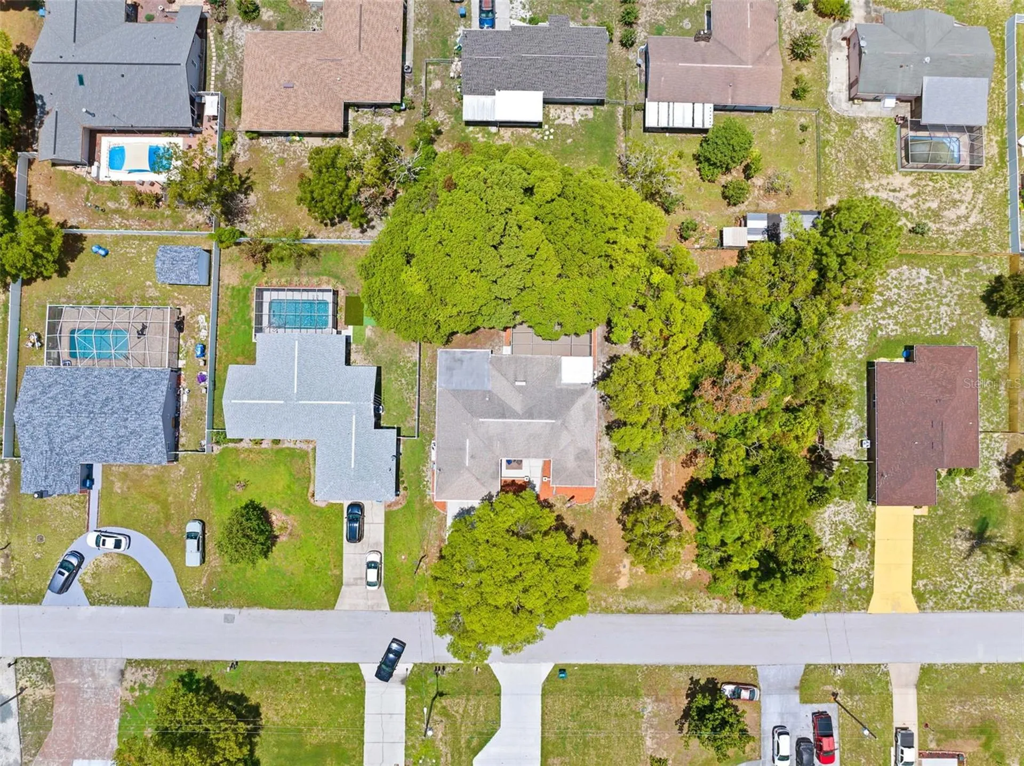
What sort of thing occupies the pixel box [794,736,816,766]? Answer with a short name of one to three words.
car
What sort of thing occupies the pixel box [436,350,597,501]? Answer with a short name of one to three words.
house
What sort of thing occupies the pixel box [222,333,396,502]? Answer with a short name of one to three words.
house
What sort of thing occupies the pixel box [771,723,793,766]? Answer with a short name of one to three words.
car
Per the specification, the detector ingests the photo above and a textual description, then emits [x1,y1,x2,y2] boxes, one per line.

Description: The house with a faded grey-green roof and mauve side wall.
[845,6,998,131]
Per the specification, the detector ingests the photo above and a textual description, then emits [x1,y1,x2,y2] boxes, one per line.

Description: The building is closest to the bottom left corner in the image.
[11,366,179,496]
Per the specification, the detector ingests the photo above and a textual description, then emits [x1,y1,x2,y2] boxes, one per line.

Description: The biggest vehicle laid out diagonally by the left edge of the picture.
[46,550,85,595]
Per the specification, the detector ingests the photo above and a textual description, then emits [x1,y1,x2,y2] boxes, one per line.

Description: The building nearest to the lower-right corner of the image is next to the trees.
[869,345,980,506]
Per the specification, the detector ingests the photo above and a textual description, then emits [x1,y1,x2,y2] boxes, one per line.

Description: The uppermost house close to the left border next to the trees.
[26,0,209,167]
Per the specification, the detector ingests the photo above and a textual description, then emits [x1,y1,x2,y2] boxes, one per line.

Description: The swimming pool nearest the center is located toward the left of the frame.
[256,292,337,335]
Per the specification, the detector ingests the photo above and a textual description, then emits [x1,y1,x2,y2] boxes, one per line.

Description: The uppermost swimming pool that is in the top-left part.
[100,137,182,180]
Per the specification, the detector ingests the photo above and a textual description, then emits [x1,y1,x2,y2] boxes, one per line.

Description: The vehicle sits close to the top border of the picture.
[476,0,496,28]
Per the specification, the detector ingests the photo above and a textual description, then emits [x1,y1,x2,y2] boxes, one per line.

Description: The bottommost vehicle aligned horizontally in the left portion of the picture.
[88,530,132,551]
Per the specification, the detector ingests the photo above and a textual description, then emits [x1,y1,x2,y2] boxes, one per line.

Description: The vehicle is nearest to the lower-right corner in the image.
[892,725,919,766]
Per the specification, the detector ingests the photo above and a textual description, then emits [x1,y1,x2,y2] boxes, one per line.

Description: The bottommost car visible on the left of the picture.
[376,637,406,682]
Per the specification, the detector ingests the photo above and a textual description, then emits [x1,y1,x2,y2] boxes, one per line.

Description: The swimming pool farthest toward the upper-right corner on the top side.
[901,123,981,169]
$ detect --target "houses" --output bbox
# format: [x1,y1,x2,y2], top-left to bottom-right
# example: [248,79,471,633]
[845,6,998,131]
[869,345,980,506]
[643,0,785,134]
[436,350,597,501]
[222,333,396,502]
[242,0,404,135]
[461,13,609,130]
[26,0,209,167]
[11,366,179,496]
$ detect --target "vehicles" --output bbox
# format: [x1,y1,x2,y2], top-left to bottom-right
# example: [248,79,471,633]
[720,681,760,702]
[892,725,919,766]
[343,501,365,543]
[46,550,85,595]
[88,530,132,551]
[771,723,793,766]
[812,710,838,764]
[794,736,816,766]
[476,0,496,28]
[183,519,207,566]
[363,550,383,590]
[376,637,406,682]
